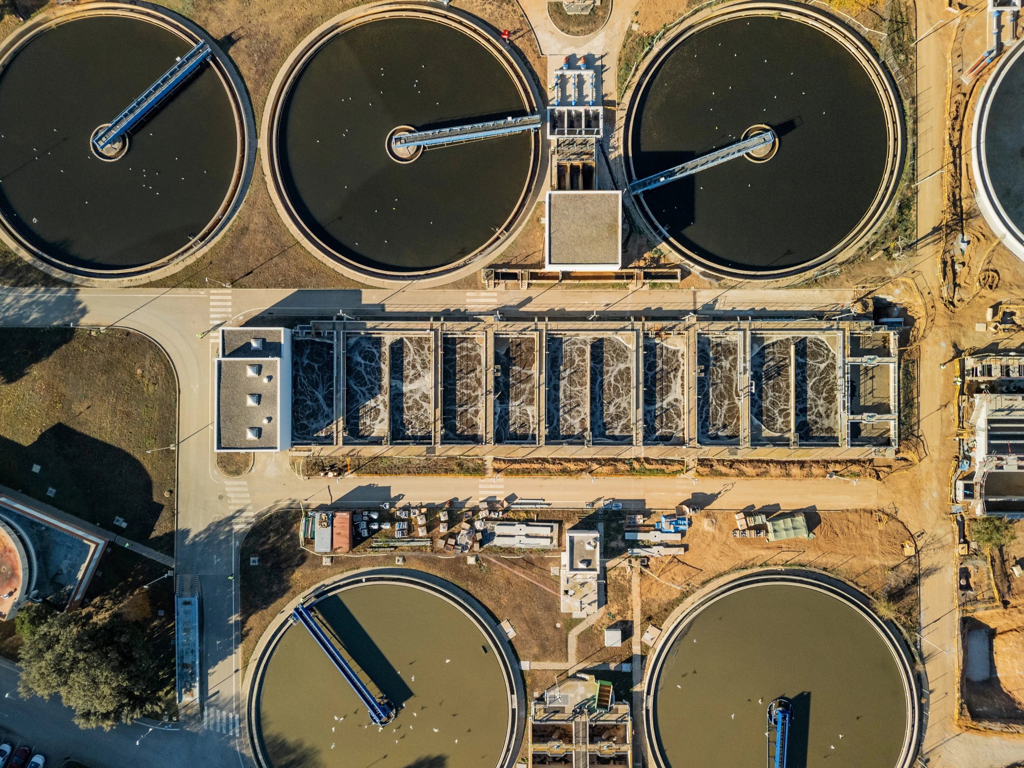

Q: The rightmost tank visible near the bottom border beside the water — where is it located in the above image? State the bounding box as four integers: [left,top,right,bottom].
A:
[641,564,925,768]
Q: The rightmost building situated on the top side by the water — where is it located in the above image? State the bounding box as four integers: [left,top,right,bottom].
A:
[540,191,622,271]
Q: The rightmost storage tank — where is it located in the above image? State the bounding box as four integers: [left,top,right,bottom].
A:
[962,35,1024,268]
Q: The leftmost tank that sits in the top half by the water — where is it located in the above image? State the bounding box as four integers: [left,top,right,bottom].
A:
[0,0,258,288]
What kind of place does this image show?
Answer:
industrial area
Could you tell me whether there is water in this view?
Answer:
Yes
